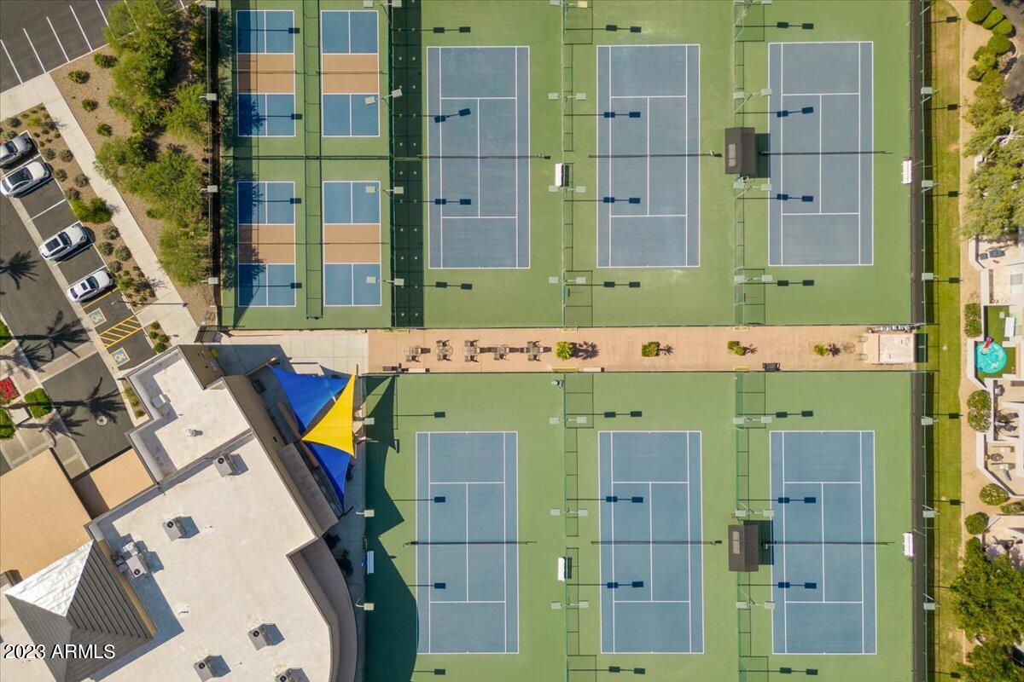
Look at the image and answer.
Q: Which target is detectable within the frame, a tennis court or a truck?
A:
tennis court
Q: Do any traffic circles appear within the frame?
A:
No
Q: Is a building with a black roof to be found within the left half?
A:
No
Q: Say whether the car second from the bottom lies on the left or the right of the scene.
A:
left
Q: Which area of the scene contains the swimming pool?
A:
right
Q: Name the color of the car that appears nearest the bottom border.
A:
white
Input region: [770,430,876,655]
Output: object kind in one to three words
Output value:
tennis court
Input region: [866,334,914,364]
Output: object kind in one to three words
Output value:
building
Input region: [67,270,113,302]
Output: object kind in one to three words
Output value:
car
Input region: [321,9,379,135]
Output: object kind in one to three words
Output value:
sports court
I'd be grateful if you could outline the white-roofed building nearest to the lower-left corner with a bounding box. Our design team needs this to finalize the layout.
[0,345,358,682]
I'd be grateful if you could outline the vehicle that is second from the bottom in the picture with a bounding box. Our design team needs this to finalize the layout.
[39,227,86,259]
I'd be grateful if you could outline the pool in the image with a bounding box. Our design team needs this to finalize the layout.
[976,343,1009,374]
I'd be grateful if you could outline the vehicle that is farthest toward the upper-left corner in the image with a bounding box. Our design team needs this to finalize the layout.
[0,134,34,168]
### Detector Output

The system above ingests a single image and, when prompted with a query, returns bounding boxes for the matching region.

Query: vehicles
[0,134,34,168]
[39,227,86,259]
[0,161,49,195]
[67,270,113,302]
